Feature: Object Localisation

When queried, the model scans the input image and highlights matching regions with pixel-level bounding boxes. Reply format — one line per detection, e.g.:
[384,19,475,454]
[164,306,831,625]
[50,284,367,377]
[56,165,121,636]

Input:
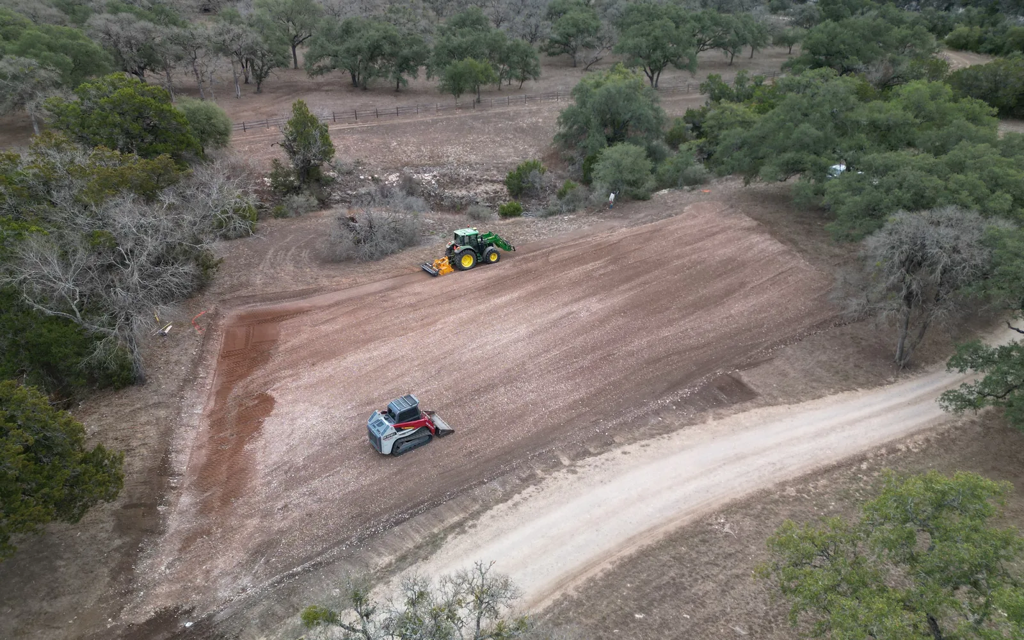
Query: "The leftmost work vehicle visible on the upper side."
[443,226,512,271]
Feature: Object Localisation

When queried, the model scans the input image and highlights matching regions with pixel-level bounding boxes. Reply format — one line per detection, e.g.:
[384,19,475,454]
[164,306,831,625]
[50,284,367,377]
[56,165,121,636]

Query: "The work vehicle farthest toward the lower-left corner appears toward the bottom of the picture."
[365,391,453,456]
